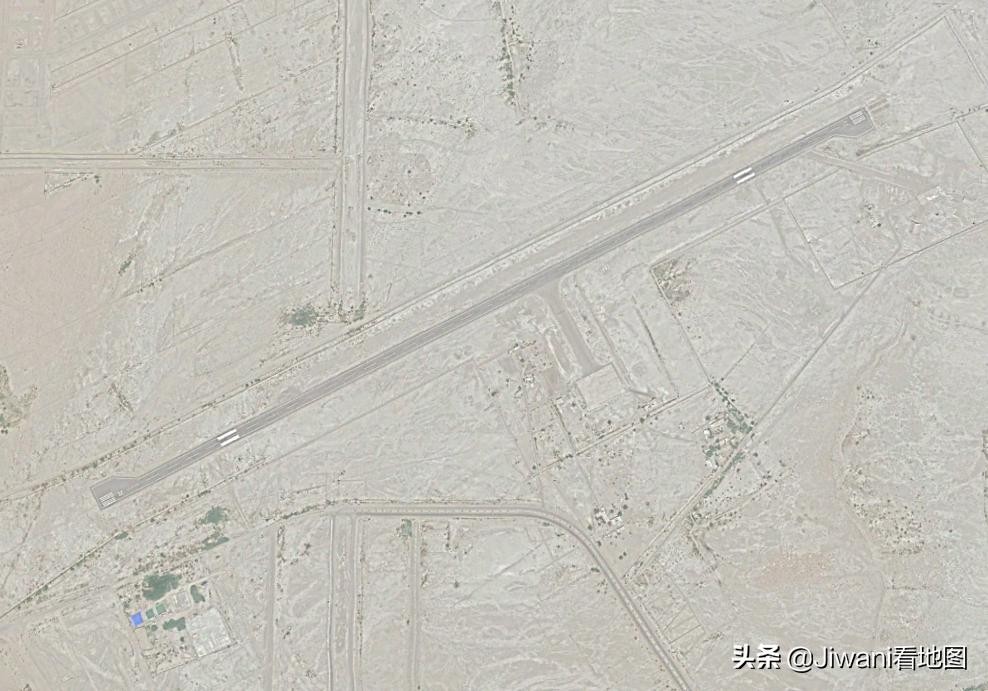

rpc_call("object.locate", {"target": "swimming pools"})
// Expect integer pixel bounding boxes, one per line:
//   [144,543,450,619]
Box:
[129,611,144,627]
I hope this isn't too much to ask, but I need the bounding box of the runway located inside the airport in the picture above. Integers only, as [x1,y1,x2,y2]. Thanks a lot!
[90,108,874,510]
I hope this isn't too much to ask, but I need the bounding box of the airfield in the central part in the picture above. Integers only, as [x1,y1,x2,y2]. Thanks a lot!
[90,108,874,510]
